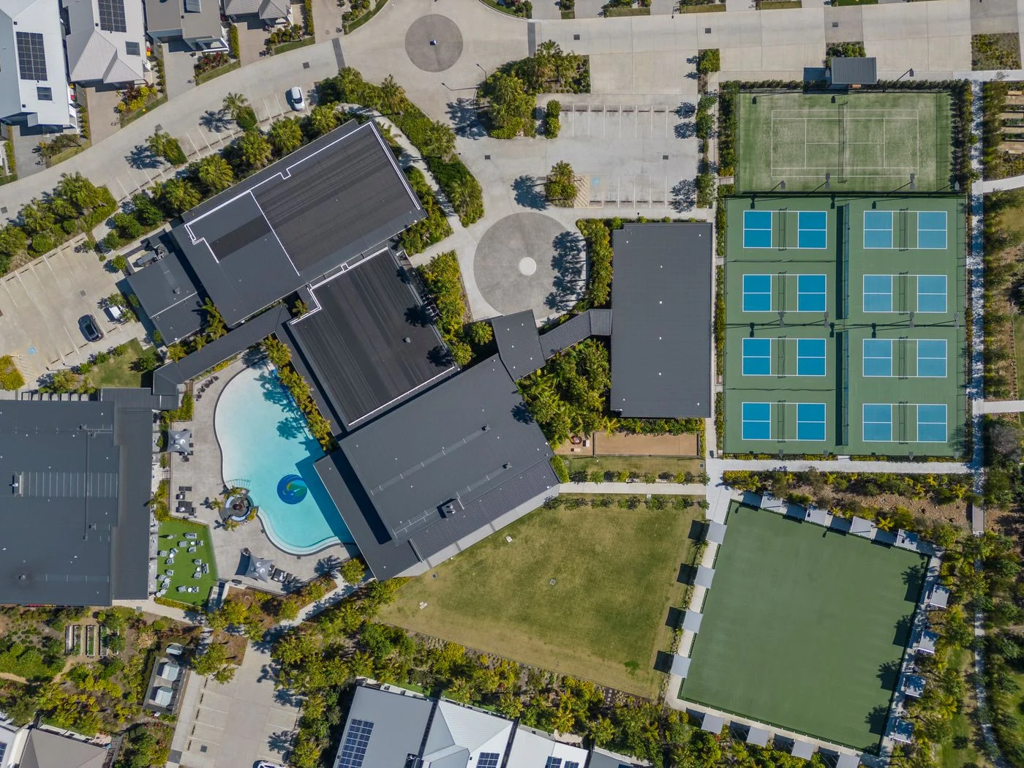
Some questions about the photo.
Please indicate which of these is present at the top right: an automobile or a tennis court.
tennis court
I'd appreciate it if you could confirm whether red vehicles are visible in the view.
No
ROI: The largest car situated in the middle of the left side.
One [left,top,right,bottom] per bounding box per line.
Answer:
[77,312,102,343]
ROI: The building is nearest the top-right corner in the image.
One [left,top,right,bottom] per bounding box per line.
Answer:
[825,57,877,90]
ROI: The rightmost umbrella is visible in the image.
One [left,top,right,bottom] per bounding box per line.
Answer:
[244,549,276,582]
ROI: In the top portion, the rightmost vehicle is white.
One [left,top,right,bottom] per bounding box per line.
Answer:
[288,85,305,112]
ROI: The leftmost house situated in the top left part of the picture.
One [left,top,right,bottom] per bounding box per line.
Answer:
[0,0,78,128]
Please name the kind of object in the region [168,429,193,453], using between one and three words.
umbrella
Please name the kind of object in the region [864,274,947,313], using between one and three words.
sports court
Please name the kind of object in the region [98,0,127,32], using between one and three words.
solar panel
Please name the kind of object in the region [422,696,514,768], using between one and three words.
house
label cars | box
[256,759,285,768]
[77,312,102,343]
[288,85,305,112]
